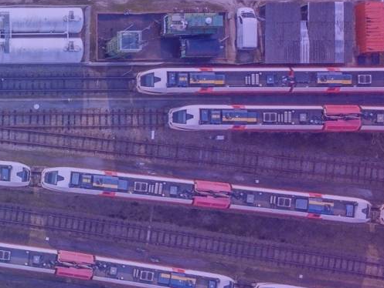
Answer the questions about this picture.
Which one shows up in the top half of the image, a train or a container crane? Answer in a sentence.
You can see a train in the top half of the image.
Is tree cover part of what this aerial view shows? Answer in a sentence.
No, the scene doesn't show any tree cover.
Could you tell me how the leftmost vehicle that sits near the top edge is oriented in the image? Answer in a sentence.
The leftmost vehicle that sits near the top edge has been laid out from top to bottom relative to the frame.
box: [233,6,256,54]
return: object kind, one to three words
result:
vehicle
